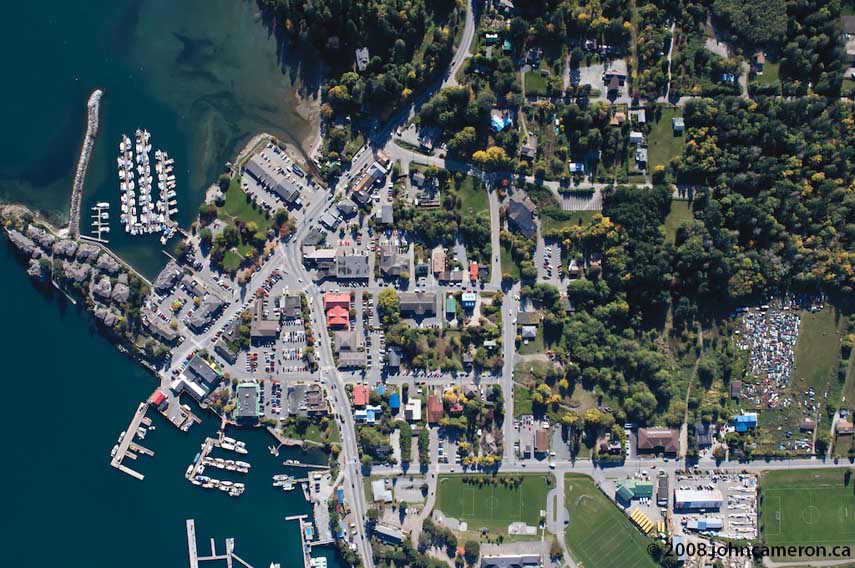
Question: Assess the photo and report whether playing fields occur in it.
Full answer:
Yes, the frame does contain a playing field.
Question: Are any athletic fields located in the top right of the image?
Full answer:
No, I can find no athletic field in the top right of the image.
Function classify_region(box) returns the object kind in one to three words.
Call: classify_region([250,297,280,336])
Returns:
building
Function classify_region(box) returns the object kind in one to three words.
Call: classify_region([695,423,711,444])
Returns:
house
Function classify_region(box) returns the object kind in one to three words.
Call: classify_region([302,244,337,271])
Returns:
building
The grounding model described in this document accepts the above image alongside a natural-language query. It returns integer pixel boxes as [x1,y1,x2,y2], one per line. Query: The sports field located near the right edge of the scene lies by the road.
[761,468,855,562]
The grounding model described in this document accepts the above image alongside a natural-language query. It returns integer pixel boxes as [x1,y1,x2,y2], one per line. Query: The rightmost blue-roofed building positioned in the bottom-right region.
[733,411,757,433]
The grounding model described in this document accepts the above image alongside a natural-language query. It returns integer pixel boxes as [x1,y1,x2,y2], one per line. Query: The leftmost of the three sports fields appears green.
[433,473,551,535]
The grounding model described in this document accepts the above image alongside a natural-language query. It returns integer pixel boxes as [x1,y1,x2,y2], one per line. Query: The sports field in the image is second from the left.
[565,473,655,568]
